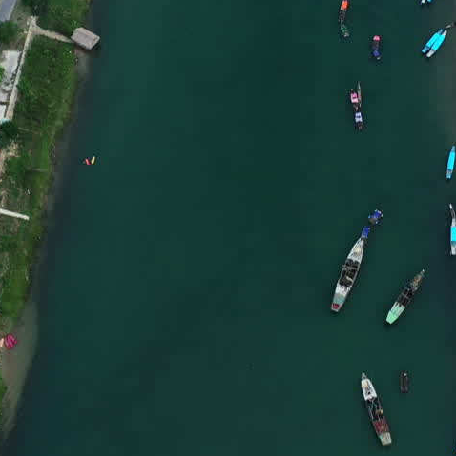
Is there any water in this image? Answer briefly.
Yes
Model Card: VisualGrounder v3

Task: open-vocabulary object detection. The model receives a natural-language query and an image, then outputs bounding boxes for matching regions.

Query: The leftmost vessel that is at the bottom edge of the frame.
[363,371,392,446]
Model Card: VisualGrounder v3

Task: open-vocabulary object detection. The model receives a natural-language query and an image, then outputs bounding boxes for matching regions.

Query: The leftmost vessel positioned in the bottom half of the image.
[330,236,364,313]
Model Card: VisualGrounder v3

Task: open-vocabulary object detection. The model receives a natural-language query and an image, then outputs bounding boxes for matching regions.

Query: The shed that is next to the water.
[70,27,102,55]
